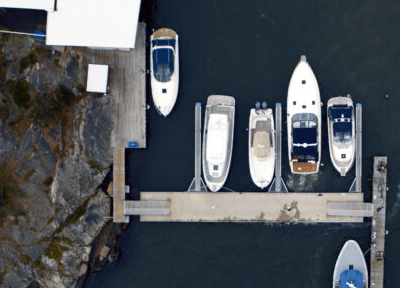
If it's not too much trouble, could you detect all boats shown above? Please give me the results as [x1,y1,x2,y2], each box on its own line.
[249,101,275,190]
[151,28,179,115]
[287,55,321,175]
[327,93,355,177]
[333,239,369,288]
[203,95,235,192]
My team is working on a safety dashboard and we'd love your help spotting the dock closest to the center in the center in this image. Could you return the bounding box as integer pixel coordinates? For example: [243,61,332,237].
[189,104,208,192]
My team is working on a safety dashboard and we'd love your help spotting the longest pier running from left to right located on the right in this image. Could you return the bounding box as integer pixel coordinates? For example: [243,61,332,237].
[140,192,363,223]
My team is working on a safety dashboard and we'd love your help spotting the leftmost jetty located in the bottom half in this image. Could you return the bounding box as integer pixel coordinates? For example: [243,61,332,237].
[103,148,130,222]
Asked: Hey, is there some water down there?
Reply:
Yes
